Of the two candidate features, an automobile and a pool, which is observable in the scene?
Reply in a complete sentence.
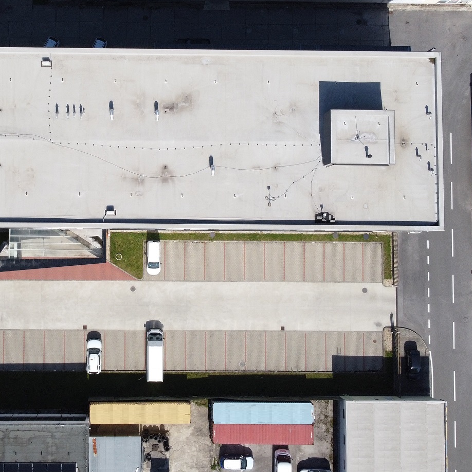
I can see an automobile in this picture.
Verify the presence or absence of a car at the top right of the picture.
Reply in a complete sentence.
No, no car appears at the top right of the picture.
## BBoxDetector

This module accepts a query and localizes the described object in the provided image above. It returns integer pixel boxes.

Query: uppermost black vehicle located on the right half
[404,347,423,380]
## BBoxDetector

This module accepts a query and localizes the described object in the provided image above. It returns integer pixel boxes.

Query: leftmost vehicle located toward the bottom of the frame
[85,337,102,376]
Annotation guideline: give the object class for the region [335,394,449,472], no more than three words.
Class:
building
